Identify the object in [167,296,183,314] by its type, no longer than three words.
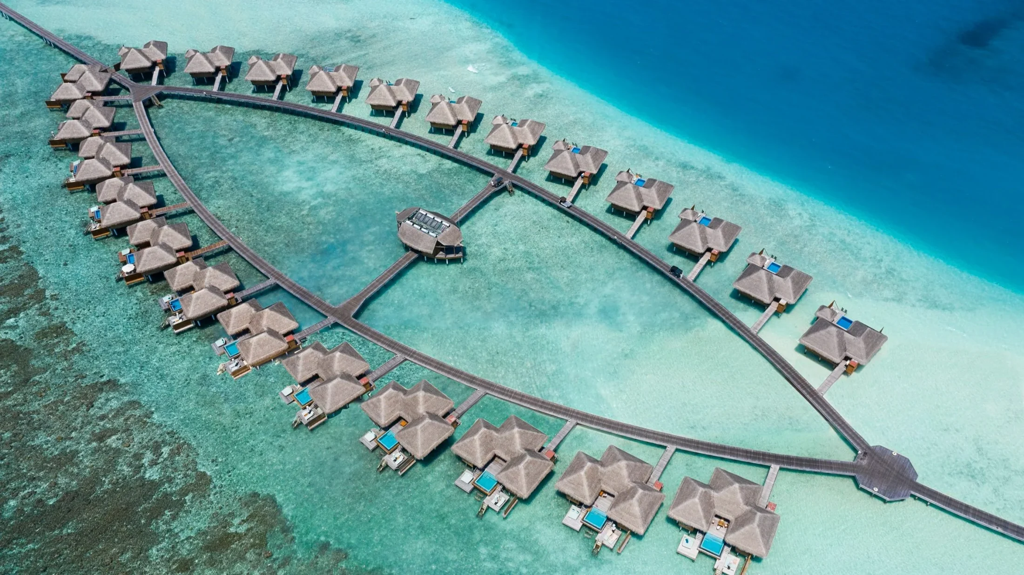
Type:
swimming pool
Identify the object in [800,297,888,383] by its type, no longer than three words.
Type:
house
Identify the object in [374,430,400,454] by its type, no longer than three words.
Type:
swimming pool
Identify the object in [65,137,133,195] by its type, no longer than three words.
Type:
house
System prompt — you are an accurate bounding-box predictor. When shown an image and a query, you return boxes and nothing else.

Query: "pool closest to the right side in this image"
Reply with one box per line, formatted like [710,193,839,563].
[834,314,856,330]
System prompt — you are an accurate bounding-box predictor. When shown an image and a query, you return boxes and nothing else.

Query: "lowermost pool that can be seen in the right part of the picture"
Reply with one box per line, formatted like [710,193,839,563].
[698,534,727,561]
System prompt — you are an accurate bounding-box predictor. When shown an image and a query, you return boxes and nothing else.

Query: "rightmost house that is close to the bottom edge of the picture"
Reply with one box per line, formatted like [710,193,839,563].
[669,468,781,575]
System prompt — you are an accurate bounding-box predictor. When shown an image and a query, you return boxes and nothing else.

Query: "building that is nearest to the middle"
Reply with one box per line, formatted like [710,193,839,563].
[395,208,465,268]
